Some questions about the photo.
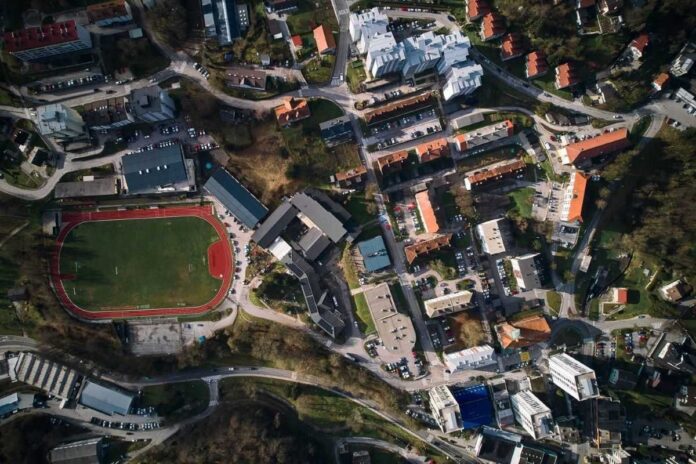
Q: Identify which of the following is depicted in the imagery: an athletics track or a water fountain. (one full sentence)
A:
This aerial view contains an athletics track.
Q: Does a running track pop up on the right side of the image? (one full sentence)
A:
No, no running track can be made out on the right side of the image.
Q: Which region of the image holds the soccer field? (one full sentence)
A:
The soccer field appears toward the left of the photo.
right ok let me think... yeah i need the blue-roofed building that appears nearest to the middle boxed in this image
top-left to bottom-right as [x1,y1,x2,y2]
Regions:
[358,236,391,272]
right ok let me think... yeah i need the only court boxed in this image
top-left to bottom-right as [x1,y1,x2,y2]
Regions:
[130,319,181,355]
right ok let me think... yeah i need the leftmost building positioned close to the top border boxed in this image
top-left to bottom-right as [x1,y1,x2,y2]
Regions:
[5,19,92,61]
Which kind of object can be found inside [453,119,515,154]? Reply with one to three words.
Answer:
building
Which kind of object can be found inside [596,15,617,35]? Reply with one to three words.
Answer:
shed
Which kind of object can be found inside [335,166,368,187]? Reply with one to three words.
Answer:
house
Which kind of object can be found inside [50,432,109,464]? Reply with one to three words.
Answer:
barn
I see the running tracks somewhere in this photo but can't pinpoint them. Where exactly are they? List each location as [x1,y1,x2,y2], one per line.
[50,205,233,319]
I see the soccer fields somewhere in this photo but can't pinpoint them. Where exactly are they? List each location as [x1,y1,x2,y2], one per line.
[58,216,222,311]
